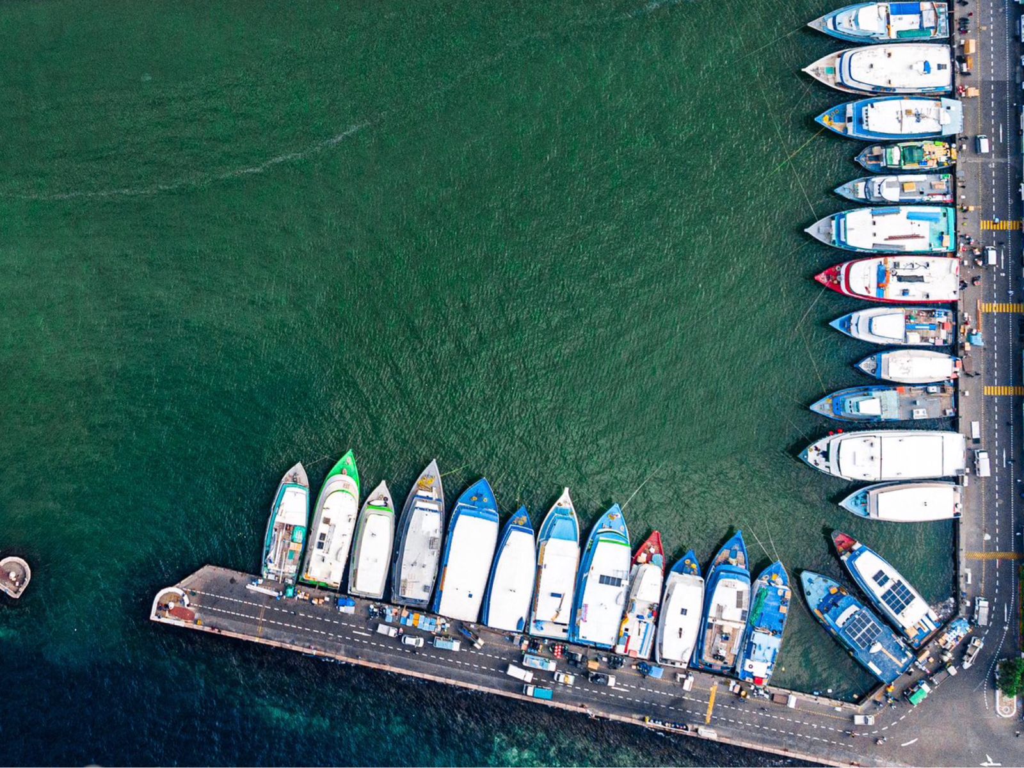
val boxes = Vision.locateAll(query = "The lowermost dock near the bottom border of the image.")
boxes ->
[149,564,859,768]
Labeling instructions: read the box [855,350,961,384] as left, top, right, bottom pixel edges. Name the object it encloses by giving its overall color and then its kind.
white boat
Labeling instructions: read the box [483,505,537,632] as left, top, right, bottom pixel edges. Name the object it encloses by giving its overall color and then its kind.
white boat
